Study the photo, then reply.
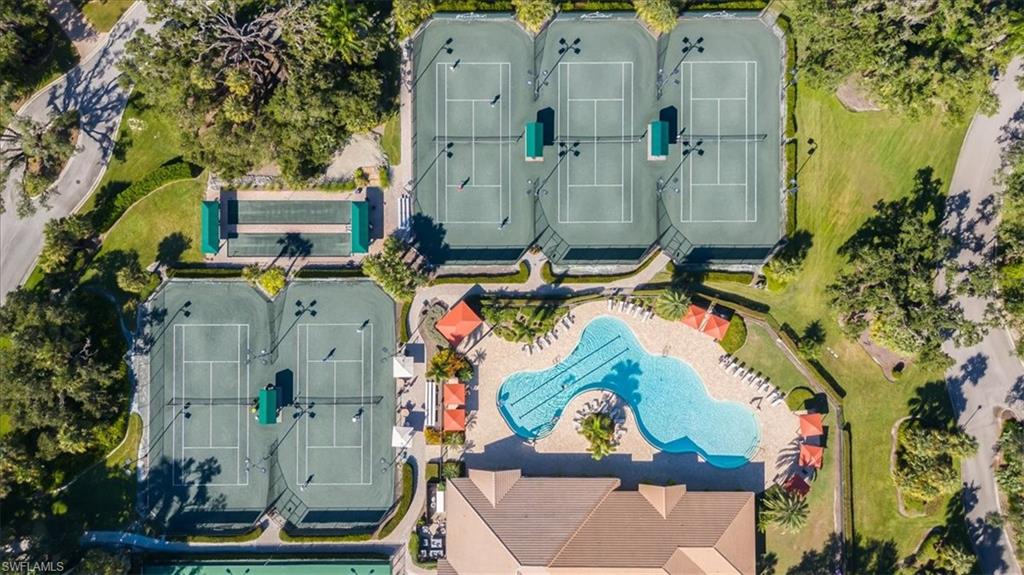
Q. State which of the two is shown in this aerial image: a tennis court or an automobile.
tennis court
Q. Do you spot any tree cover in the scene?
Yes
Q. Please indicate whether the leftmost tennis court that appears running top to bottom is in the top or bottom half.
bottom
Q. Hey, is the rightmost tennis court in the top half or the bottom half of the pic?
top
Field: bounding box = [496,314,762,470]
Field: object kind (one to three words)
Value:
swimming pool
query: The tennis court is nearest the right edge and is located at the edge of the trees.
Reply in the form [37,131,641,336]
[657,18,784,265]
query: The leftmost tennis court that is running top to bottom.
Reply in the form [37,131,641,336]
[150,281,271,528]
